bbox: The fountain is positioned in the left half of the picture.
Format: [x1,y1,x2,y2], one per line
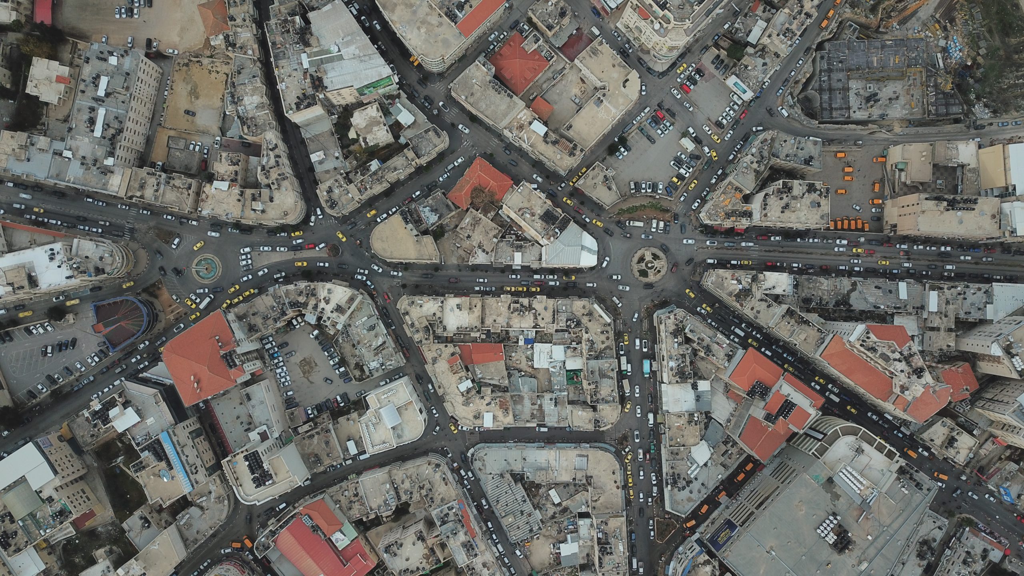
[189,253,222,283]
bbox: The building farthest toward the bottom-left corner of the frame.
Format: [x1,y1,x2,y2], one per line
[9,539,62,576]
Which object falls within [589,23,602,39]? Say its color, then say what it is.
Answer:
white vehicle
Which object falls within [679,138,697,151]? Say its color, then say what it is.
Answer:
white vehicle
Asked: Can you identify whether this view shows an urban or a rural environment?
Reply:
urban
